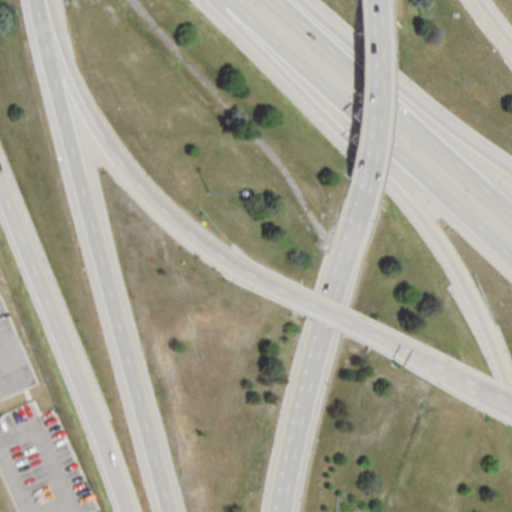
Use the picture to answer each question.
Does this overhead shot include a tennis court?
No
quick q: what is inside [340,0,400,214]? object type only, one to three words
overpass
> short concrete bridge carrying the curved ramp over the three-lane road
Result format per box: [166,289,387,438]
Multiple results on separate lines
[279,278,386,354]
